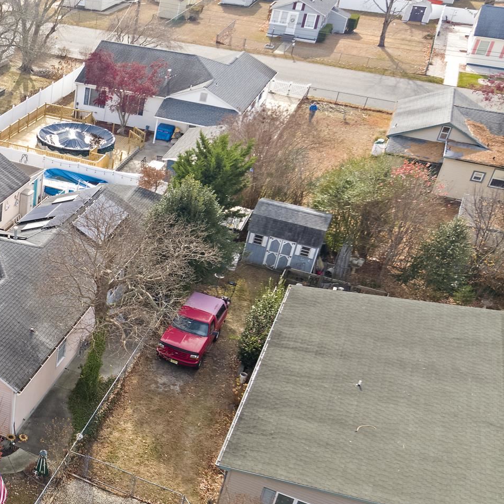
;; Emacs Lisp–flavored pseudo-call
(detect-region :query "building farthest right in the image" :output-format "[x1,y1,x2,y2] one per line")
[466,1,504,75]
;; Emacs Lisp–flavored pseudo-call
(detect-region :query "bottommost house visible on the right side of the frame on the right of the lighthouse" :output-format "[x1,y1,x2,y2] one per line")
[208,283,504,504]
